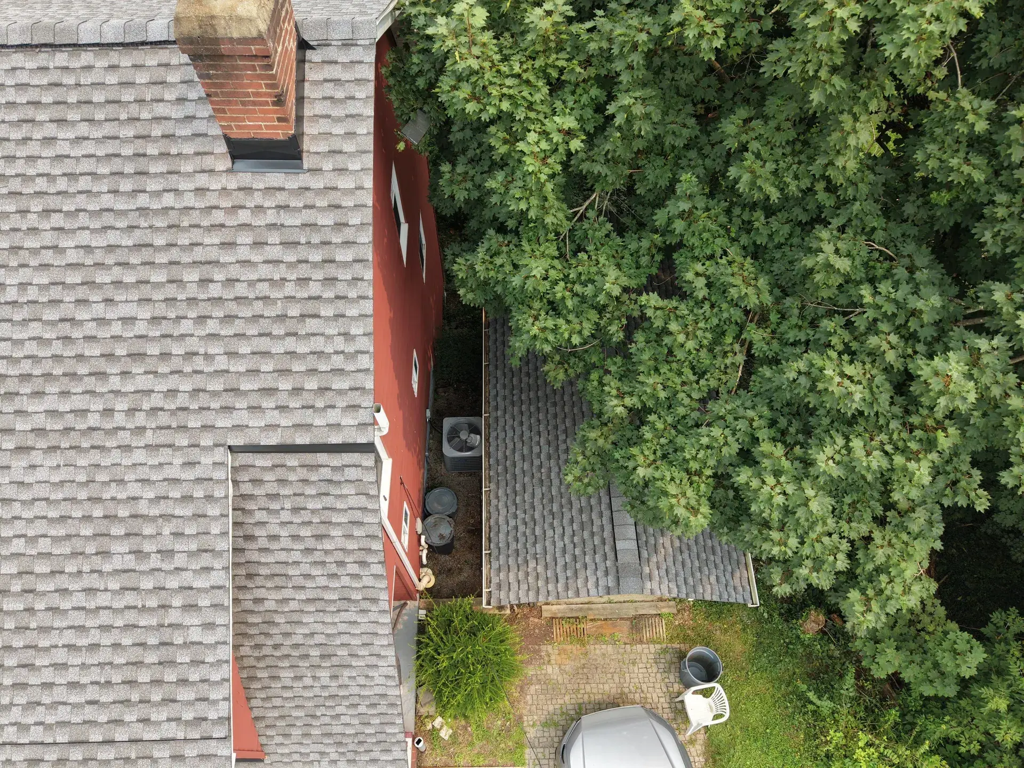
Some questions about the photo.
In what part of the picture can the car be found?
bottom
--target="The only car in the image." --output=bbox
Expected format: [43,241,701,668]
[554,705,685,768]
